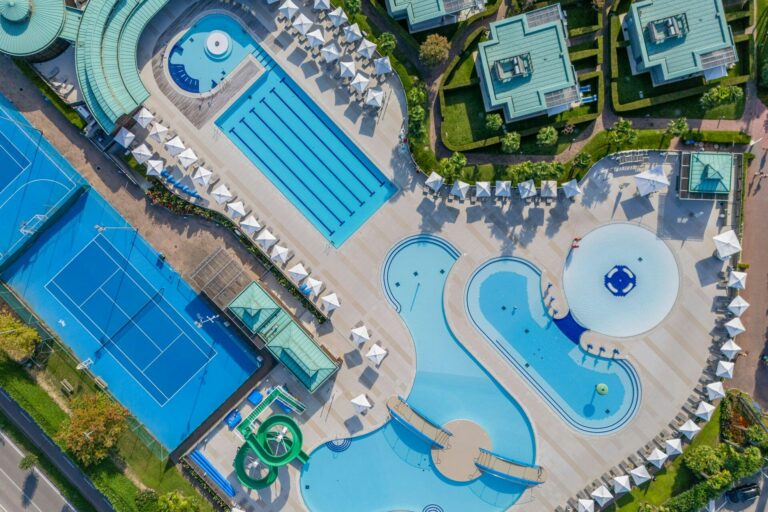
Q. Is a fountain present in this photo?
Yes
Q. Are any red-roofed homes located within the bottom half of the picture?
No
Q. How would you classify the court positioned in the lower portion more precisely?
tennis court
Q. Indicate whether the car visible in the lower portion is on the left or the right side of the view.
right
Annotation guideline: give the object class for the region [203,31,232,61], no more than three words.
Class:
fountain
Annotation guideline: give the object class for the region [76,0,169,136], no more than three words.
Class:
building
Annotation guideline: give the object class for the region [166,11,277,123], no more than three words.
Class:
swimming pool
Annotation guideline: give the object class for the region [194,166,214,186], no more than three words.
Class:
umbrella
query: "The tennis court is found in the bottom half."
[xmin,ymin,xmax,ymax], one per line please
[3,184,256,450]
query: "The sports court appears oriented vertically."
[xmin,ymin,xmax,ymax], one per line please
[0,92,87,282]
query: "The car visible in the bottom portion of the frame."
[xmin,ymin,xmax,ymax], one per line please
[724,483,760,504]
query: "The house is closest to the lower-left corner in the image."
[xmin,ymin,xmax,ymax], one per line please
[227,281,338,392]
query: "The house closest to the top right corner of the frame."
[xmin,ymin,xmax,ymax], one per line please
[616,0,734,90]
